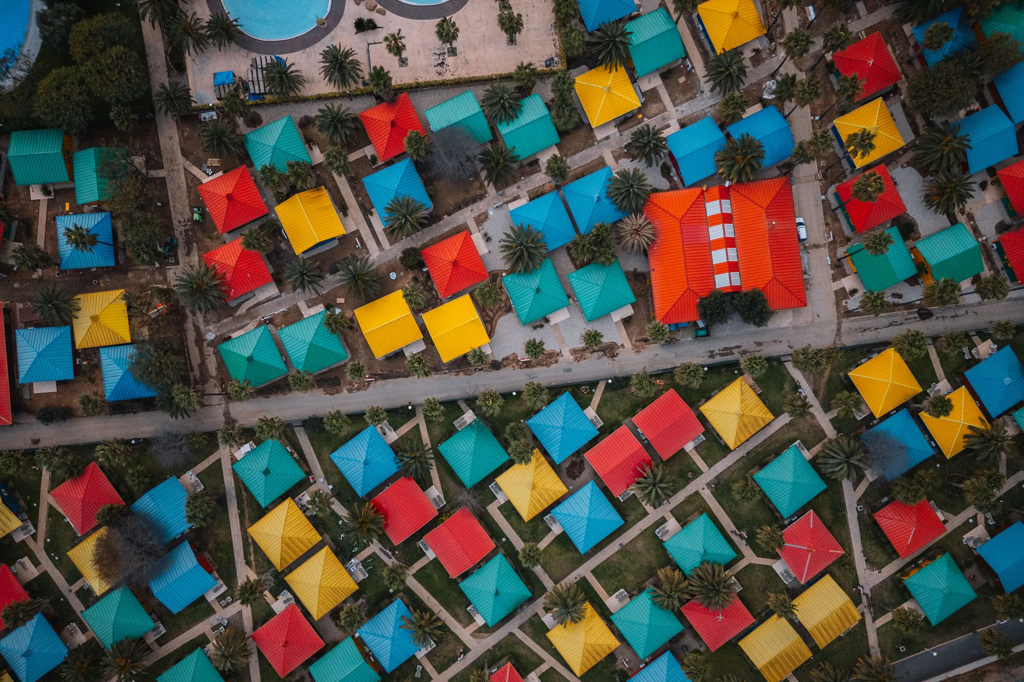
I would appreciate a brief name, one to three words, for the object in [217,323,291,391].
house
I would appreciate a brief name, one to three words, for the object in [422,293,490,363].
house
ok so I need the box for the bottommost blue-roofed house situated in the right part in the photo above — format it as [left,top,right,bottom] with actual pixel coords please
[625,645,691,682]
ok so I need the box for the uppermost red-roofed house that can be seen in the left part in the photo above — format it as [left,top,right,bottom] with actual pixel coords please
[359,91,429,163]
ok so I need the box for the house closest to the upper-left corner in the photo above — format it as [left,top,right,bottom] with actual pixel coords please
[5,129,75,186]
